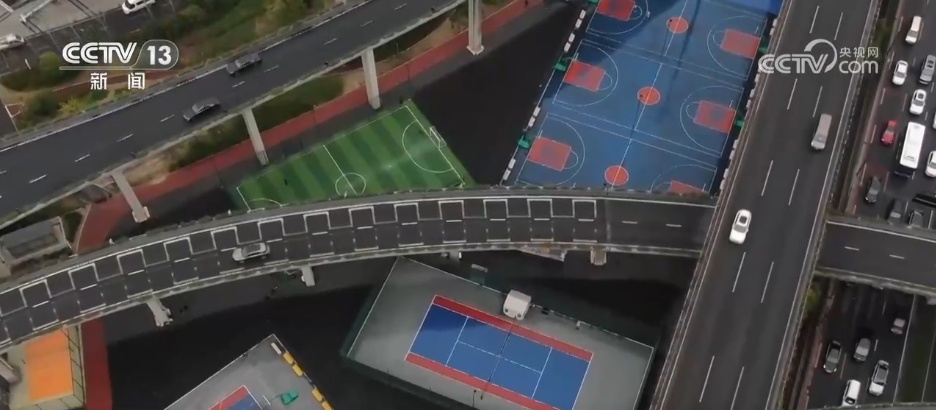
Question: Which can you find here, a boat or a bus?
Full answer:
This aerial view contains a bus.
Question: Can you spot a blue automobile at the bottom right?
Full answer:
No, no blue automobile can be made out at the bottom right.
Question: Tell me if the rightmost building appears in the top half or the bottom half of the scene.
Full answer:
You can find the rightmost building in the bottom half.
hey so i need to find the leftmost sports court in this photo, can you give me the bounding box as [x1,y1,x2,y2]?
[0,327,82,410]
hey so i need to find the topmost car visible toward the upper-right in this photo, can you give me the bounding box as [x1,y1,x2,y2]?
[905,21,922,46]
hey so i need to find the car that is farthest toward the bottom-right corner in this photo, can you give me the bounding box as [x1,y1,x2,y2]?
[867,362,888,399]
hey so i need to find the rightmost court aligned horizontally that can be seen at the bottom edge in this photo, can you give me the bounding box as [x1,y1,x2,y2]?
[344,257,652,410]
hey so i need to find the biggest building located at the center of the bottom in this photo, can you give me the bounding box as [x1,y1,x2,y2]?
[503,289,532,318]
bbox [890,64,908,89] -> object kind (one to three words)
car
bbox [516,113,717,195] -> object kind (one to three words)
basketball court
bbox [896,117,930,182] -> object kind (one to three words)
bus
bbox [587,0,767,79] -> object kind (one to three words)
basketball court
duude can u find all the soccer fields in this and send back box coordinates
[226,99,477,211]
